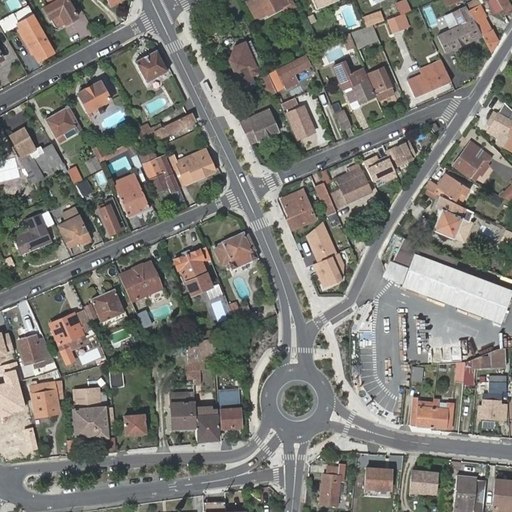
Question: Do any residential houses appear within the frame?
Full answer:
Yes, the image includes a residential house.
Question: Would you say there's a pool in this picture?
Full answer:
Yes, there's a pool down there.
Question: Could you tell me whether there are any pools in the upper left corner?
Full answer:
Yes, a pool is visible in the upper left corner.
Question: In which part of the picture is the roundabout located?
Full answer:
The roundabout sits in the bottom section of the image.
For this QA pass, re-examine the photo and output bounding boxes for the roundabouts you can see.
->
[262,363,335,438]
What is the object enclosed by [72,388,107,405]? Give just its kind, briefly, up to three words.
house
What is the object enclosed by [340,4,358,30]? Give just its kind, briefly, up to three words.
swimming pool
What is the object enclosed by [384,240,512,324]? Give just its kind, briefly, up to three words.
building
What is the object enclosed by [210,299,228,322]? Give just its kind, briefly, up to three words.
swimming pool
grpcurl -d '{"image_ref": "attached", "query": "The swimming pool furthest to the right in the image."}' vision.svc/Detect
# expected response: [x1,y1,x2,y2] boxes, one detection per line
[422,4,438,28]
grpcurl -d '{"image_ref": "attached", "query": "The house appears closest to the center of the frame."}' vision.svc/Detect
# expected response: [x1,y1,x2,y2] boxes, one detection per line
[214,232,255,269]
